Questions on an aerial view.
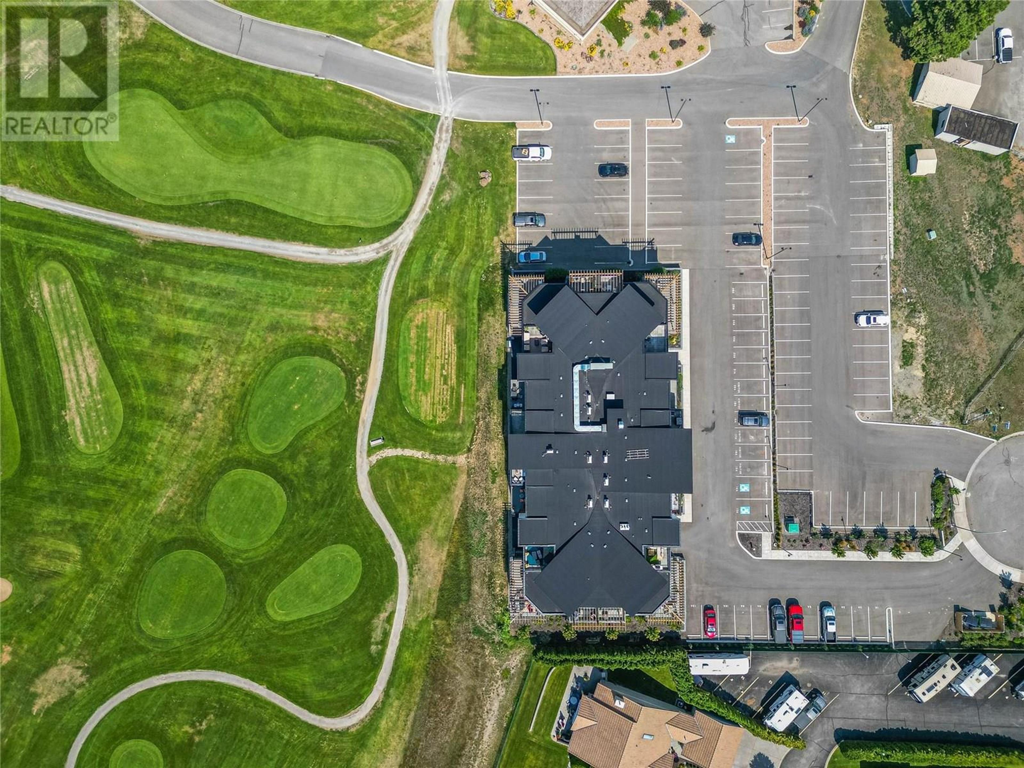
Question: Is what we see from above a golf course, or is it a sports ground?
golf course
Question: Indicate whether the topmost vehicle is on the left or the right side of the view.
right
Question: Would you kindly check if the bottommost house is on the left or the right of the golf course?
on its right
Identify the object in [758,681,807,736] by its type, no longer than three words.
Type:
trailer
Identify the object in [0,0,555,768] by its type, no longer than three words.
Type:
golf course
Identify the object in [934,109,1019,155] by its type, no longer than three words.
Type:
building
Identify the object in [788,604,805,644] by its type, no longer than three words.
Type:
vehicle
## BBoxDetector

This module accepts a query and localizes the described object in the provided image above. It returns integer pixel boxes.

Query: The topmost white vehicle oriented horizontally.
[512,144,551,162]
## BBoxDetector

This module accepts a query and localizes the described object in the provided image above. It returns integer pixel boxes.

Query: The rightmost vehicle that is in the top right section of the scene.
[995,27,1015,66]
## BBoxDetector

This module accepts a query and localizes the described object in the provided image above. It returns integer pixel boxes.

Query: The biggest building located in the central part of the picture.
[508,270,693,632]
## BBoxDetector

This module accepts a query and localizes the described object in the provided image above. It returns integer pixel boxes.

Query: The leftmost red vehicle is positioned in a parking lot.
[703,609,718,639]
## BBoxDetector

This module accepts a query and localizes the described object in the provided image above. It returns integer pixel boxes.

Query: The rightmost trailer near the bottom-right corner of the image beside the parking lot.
[946,654,1001,697]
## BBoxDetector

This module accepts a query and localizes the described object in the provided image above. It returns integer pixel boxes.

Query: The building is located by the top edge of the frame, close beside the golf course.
[528,0,620,49]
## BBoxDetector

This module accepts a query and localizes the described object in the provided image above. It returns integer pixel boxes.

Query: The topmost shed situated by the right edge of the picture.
[904,59,983,117]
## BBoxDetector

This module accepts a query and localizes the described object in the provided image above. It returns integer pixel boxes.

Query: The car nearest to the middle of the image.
[519,250,547,264]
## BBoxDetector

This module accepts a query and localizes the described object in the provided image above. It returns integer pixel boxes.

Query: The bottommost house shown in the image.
[568,676,743,768]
